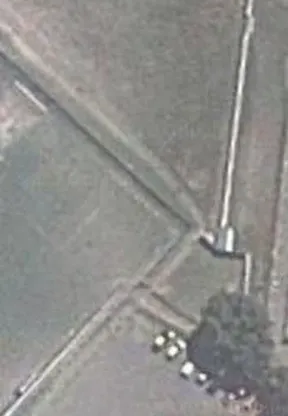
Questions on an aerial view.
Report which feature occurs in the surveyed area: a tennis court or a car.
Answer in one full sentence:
The image shows a car.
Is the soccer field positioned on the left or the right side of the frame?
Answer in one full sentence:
The soccer field sits on the left side.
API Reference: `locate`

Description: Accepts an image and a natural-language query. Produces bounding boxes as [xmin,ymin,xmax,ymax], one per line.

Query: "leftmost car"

[154,330,177,347]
